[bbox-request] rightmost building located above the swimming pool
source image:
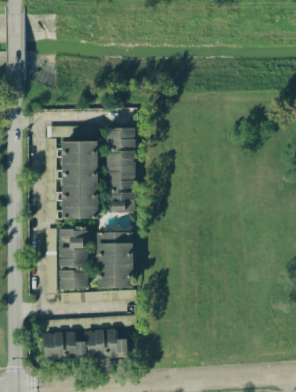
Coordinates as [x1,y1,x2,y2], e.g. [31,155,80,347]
[107,128,136,212]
